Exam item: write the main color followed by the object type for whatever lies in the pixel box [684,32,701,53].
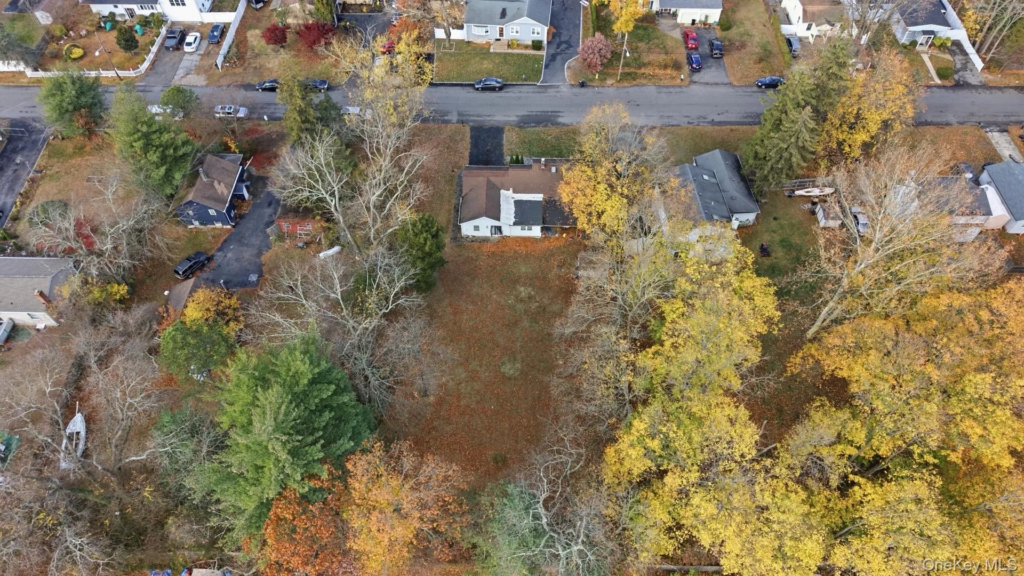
red car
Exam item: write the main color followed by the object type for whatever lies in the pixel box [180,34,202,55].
white car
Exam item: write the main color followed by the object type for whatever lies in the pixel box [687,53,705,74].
blue car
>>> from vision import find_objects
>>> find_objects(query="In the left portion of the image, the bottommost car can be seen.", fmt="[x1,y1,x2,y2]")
[169,255,212,282]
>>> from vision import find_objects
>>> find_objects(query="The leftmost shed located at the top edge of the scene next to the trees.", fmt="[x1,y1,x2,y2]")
[28,4,56,26]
